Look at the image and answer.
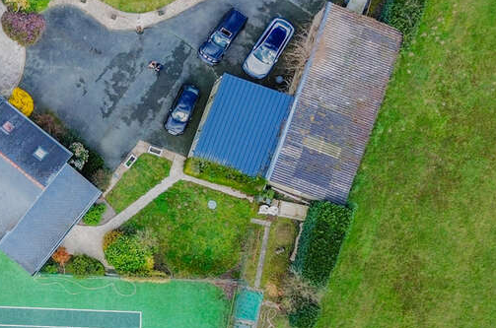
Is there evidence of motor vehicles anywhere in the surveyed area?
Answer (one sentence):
Yes, a motor vehicle appears in the view.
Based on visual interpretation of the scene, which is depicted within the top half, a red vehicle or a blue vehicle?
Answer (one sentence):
It is a blue vehicle that can be seen within the top half.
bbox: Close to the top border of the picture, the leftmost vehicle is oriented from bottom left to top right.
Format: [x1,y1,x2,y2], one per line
[195,6,250,68]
